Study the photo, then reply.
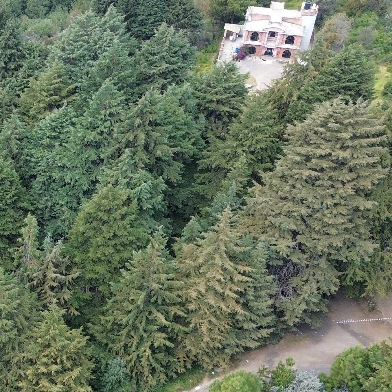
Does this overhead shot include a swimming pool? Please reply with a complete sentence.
No, this view has no swimming pool in it.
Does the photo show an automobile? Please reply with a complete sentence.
No, there's no automobile here.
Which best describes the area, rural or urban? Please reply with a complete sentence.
The area shown here is rural.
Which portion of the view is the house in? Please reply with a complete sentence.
The house sits in the top right section of the image.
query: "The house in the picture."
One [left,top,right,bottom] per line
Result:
[245,3,328,63]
